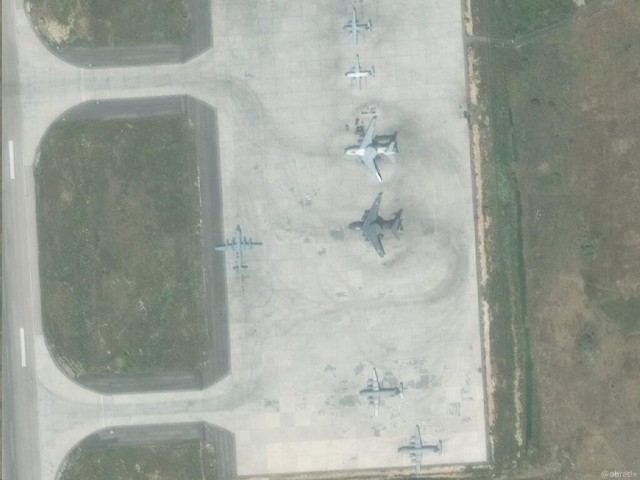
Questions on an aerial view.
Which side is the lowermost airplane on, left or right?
right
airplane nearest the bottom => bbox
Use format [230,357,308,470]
[398,427,447,473]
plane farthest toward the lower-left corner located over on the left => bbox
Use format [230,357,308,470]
[214,226,262,273]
